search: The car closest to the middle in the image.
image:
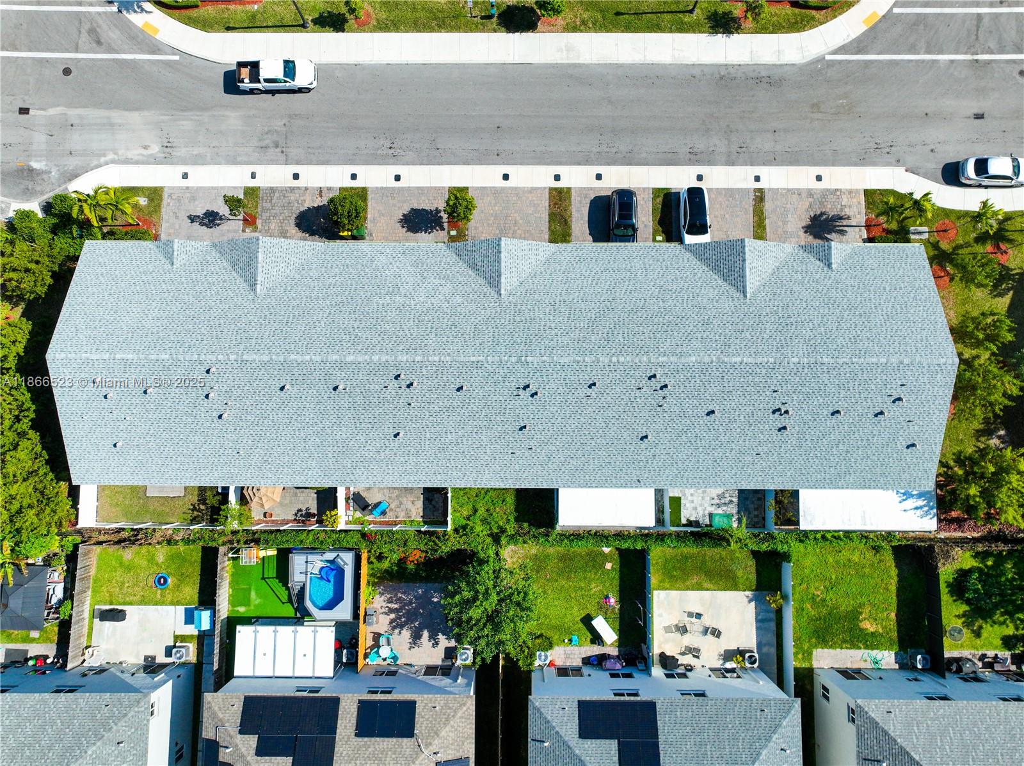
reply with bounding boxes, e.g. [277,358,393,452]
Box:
[608,194,641,241]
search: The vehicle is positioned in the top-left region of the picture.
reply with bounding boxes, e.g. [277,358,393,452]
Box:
[235,57,319,94]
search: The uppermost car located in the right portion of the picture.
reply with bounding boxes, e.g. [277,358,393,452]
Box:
[955,155,1024,186]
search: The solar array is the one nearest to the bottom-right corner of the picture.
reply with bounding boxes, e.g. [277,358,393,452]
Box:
[576,701,661,766]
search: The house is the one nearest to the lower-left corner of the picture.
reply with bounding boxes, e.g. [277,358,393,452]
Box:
[0,660,189,766]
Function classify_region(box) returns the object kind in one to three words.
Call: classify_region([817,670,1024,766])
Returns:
house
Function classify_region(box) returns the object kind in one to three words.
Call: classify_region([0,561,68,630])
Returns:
gazebo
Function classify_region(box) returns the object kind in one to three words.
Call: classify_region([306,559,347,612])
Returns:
swimming pool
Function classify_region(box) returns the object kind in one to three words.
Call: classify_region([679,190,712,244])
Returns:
car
